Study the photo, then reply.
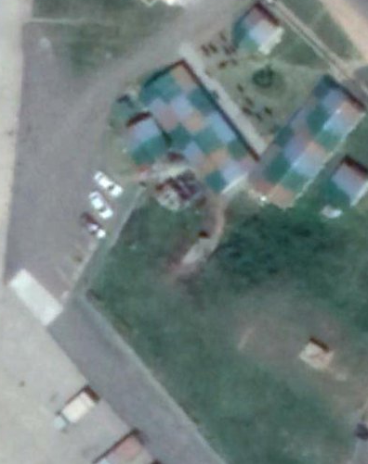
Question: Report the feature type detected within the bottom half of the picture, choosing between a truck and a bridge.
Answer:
truck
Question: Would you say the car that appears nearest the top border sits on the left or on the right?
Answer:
left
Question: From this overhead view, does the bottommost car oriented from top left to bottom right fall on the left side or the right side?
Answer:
left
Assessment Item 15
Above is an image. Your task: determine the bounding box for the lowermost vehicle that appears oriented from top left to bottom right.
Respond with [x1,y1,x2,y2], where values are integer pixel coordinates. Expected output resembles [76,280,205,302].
[81,212,106,237]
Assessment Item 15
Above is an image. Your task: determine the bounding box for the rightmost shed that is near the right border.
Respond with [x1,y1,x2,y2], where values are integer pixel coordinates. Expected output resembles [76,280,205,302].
[324,162,368,210]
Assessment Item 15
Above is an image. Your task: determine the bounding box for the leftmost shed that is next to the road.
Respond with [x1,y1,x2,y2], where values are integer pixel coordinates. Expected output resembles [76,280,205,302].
[125,116,169,158]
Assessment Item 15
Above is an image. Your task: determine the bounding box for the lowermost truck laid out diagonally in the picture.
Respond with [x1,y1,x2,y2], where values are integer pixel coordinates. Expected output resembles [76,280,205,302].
[98,434,146,464]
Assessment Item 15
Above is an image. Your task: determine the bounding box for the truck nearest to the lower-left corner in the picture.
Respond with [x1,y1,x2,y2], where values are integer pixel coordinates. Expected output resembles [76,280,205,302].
[52,388,98,430]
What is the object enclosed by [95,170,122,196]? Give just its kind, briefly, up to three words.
car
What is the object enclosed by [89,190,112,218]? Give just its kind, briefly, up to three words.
car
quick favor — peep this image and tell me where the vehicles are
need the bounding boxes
[95,170,122,196]
[98,434,146,464]
[81,212,106,237]
[89,190,112,218]
[52,388,98,430]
